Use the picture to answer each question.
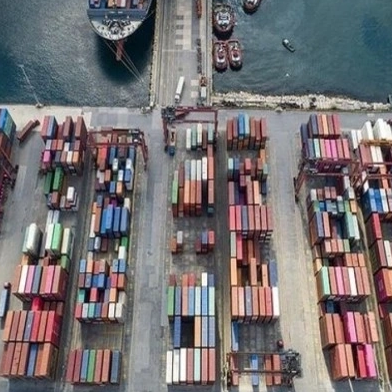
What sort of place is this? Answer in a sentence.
This looks like a port.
